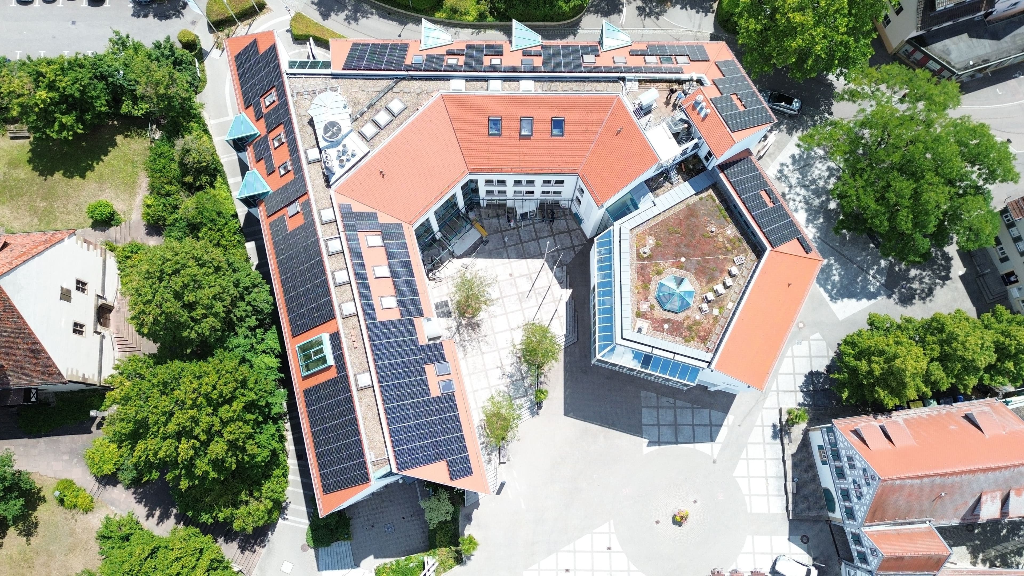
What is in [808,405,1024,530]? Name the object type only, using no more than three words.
house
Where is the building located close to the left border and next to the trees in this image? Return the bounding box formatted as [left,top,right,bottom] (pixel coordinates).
[0,229,116,408]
